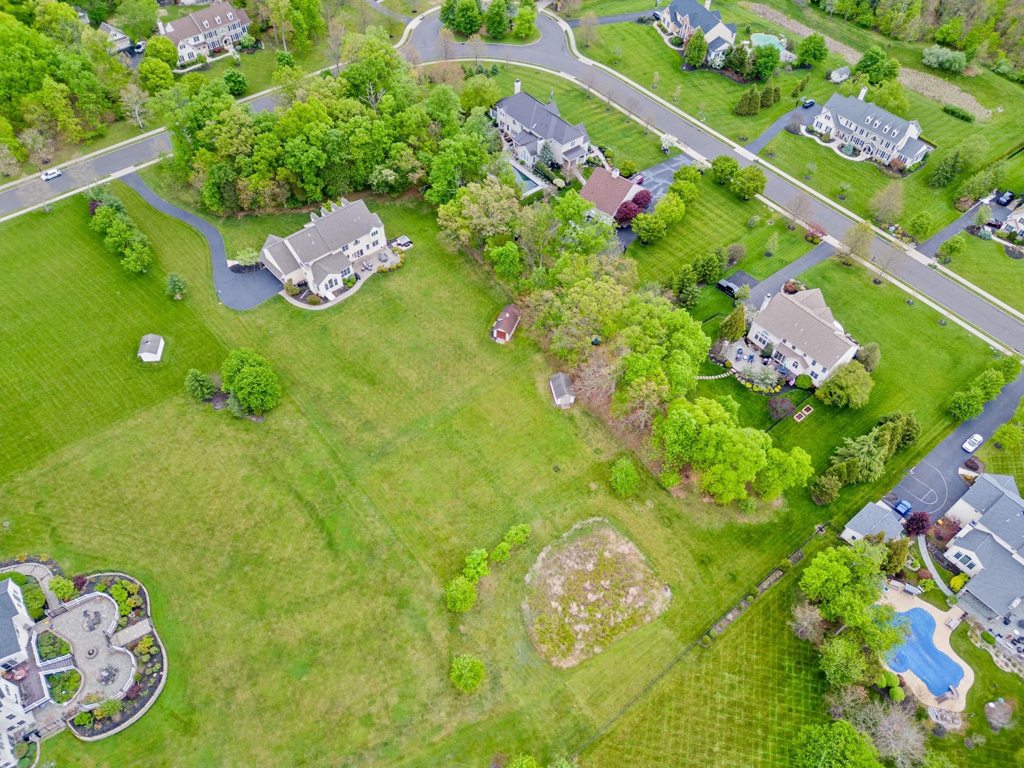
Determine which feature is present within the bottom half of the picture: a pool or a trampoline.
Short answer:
pool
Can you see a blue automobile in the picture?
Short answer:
Yes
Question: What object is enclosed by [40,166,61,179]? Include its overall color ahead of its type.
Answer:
white vehicle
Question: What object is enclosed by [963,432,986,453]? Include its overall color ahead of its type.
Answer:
white car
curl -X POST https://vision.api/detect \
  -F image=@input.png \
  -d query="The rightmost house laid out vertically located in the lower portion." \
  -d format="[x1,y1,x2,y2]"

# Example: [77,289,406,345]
[943,459,1024,628]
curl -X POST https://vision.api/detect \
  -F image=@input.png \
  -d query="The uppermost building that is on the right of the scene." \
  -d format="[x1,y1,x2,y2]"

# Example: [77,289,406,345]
[652,0,742,61]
